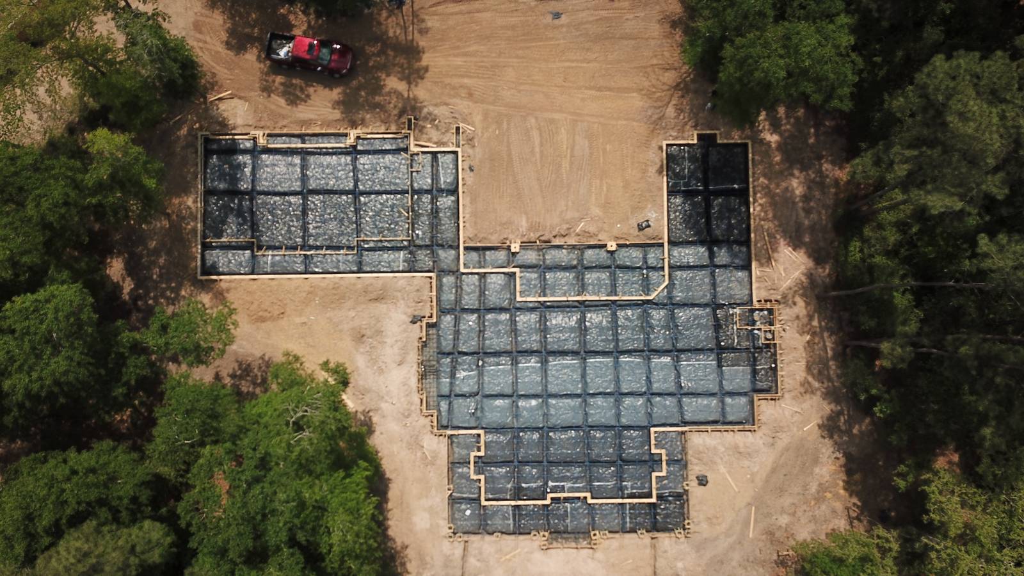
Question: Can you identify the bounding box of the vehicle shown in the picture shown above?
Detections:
[264,29,355,76]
